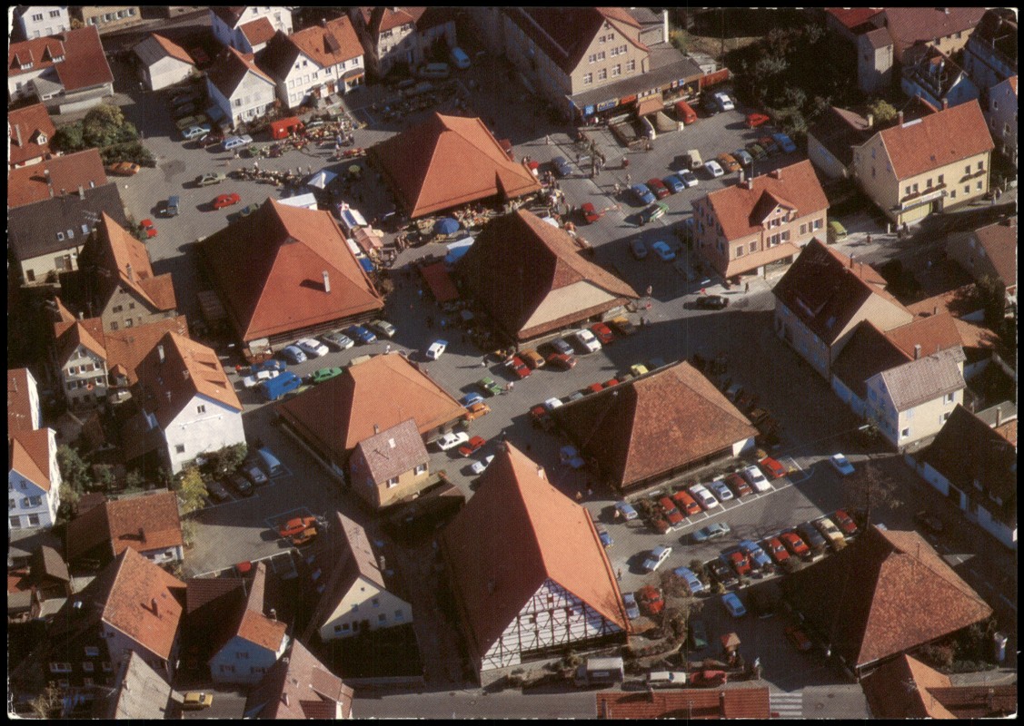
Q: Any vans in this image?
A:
Yes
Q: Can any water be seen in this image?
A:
No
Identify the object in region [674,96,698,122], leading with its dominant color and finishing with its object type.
red vehicle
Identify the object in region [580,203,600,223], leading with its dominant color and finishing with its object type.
red vehicle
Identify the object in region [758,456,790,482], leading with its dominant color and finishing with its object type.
red car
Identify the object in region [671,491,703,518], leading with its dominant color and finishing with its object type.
red car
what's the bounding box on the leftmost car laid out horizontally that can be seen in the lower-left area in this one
[176,692,219,711]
